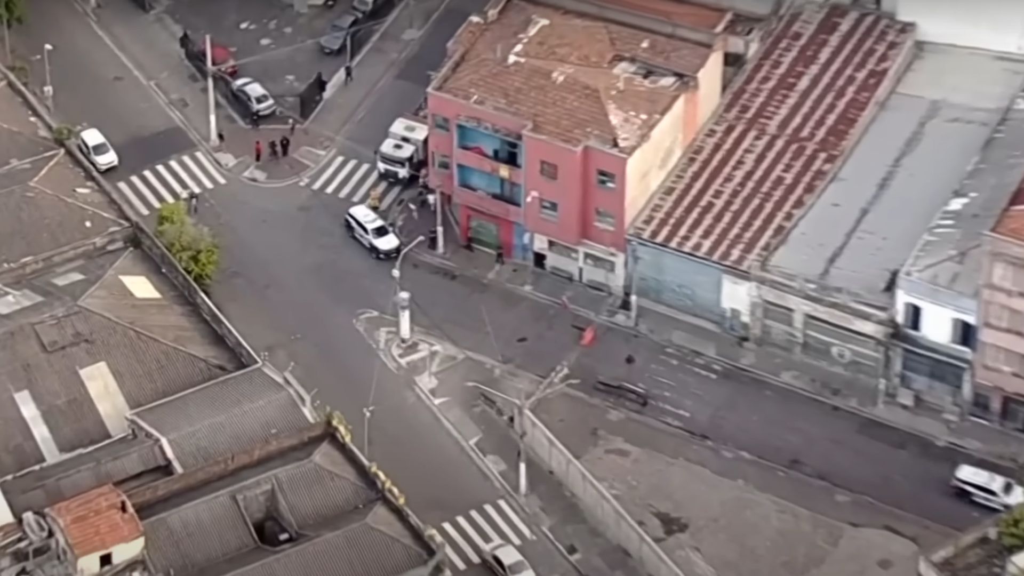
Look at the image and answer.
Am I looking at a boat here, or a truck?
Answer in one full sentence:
It is a truck that can be seen here.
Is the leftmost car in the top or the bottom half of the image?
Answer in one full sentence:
You can find the leftmost car in the top half.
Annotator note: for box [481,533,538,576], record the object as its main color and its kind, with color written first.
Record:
white car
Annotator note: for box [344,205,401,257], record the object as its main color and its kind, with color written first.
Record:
white car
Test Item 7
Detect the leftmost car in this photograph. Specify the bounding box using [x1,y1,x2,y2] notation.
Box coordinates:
[77,129,120,173]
